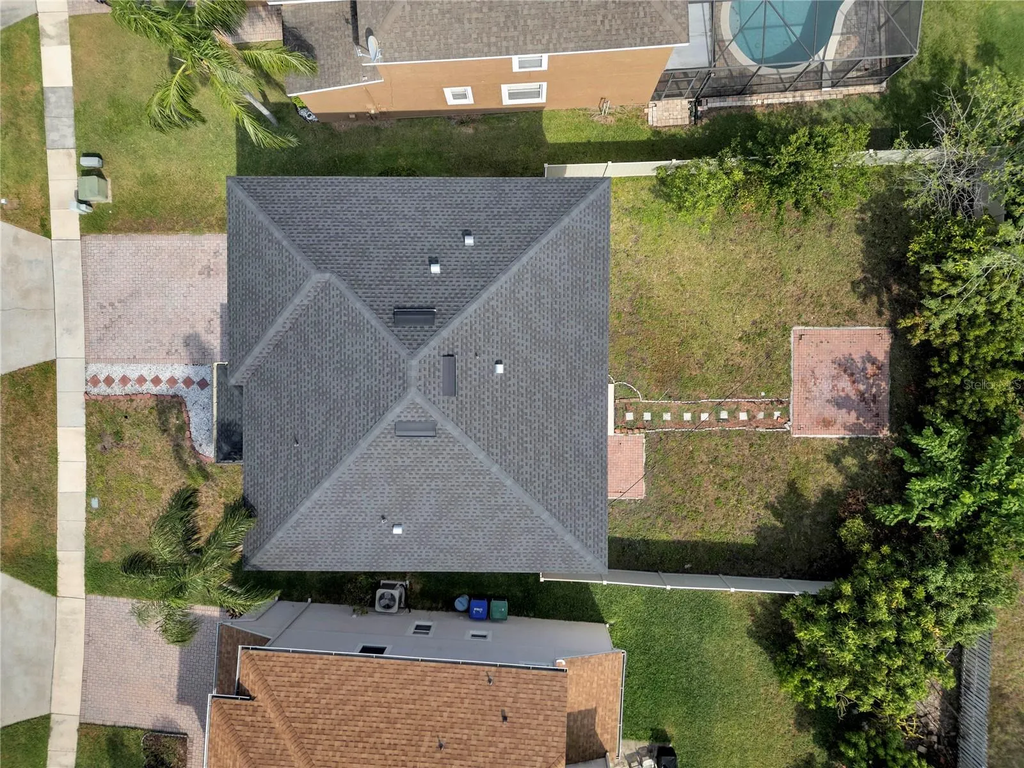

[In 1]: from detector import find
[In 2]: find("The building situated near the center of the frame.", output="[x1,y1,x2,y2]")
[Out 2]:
[210,177,609,572]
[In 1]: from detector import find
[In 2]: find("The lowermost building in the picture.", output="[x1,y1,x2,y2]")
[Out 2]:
[198,593,621,768]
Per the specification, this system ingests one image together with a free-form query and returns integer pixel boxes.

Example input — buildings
[198,593,621,768]
[210,177,609,572]
[266,0,713,122]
